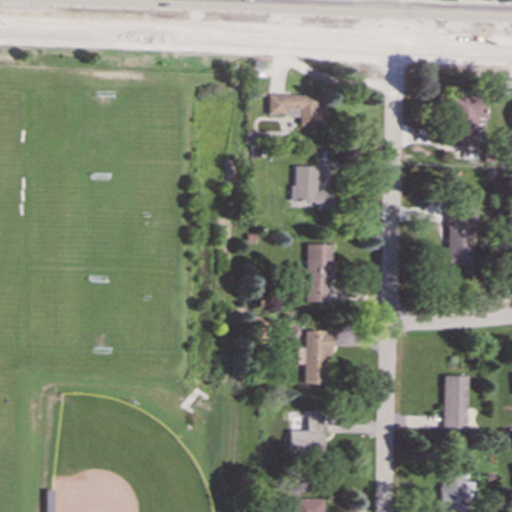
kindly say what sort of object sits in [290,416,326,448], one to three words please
house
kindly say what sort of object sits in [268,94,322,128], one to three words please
house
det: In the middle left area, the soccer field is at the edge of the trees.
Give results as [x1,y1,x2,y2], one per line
[27,93,182,353]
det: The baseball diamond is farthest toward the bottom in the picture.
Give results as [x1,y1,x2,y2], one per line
[52,392,216,512]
